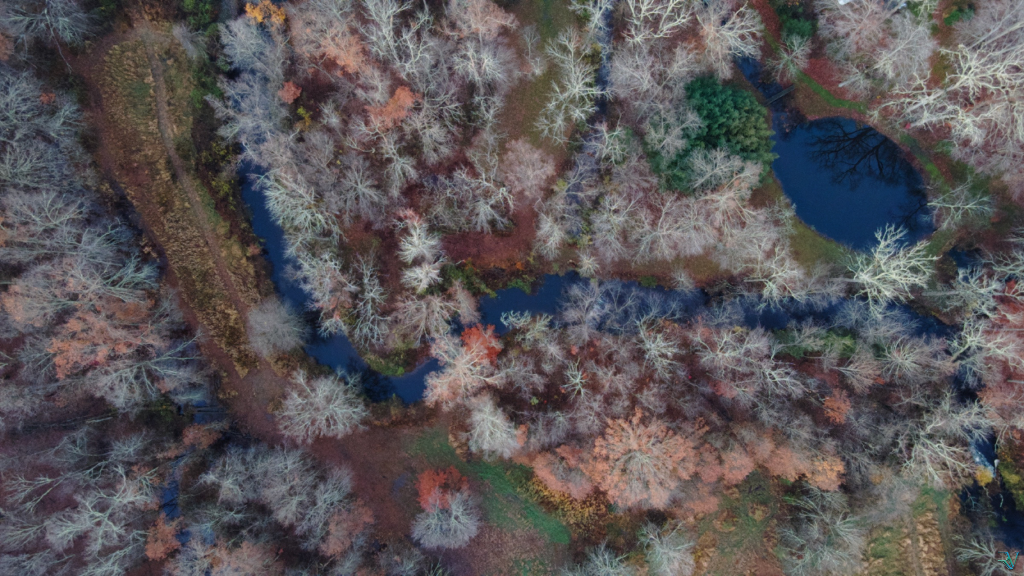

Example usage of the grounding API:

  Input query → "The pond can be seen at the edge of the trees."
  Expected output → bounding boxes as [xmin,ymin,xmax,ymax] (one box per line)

[735,55,935,251]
